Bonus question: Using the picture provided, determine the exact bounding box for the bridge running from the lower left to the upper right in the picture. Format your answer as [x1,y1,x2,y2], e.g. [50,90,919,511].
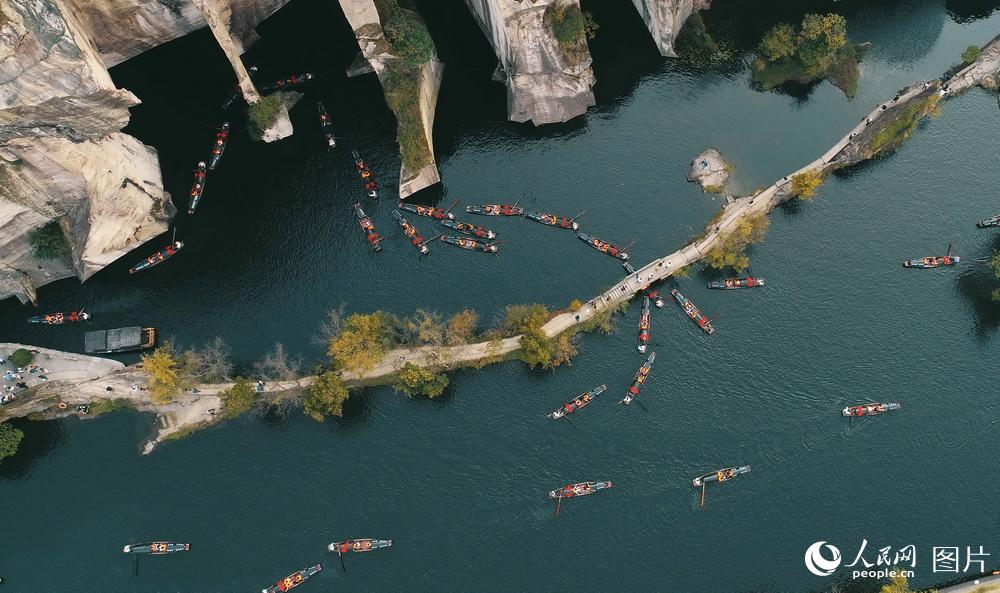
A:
[588,236,701,314]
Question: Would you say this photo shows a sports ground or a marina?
marina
